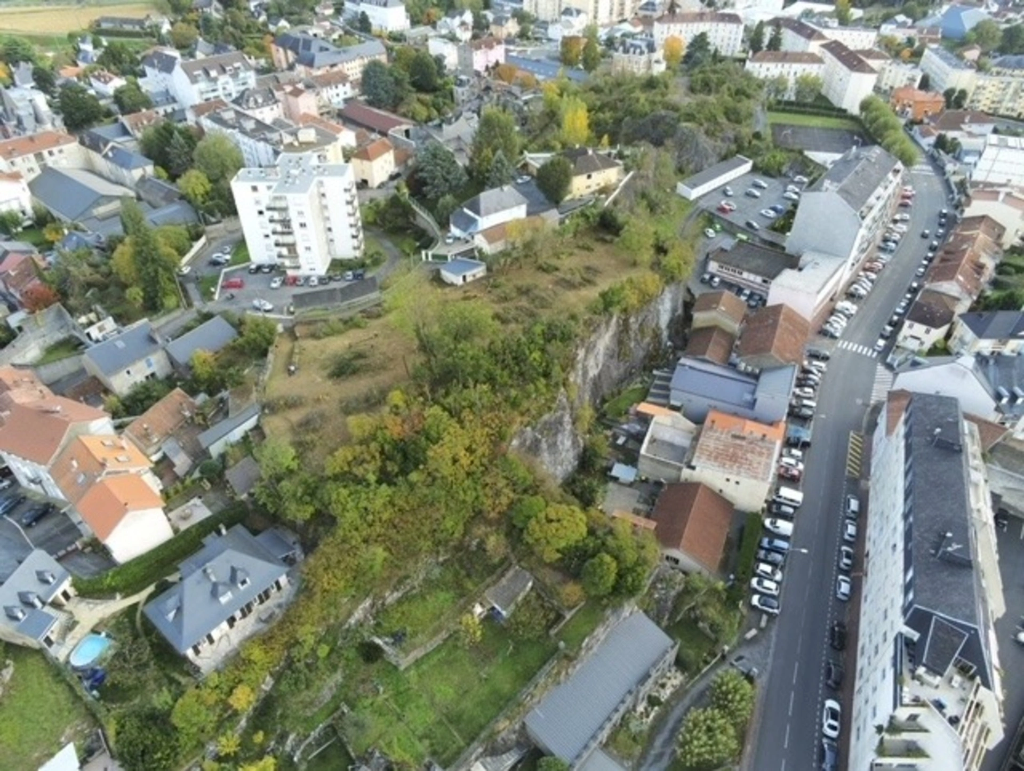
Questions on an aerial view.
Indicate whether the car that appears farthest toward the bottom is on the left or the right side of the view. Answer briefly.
right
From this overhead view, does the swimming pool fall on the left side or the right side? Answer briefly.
left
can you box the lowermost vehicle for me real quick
[817,731,842,771]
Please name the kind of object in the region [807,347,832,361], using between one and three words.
car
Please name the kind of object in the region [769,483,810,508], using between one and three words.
vehicle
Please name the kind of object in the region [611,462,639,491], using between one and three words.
shed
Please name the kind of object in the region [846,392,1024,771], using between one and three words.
building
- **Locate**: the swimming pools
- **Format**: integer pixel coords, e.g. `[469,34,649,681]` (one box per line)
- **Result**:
[62,626,114,668]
